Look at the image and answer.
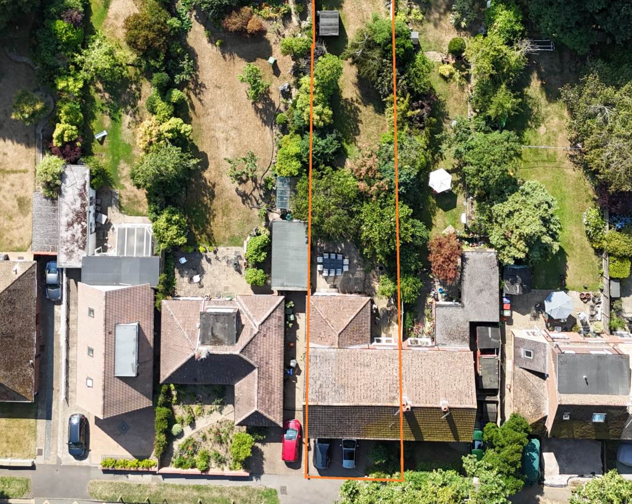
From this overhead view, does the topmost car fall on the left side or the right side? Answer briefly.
left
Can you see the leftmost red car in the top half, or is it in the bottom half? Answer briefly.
bottom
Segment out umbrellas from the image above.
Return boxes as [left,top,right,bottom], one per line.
[543,289,575,322]
[429,167,452,193]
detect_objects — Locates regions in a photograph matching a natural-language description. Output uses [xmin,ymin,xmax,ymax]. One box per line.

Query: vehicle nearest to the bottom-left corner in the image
[66,413,90,456]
